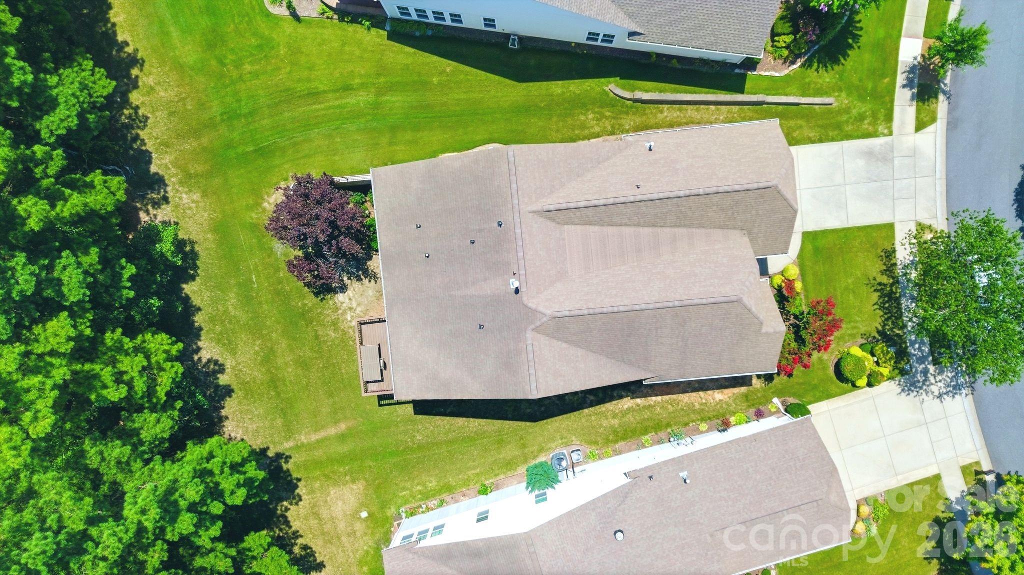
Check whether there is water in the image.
No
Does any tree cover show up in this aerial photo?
Yes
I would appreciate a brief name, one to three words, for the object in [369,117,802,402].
house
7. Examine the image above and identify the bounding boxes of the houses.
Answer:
[372,0,782,64]
[379,397,855,575]
[369,117,802,402]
